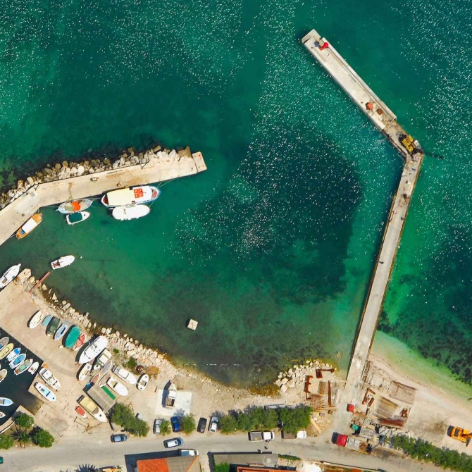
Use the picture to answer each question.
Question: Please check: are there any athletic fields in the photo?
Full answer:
No, no athletic field is visible in the view.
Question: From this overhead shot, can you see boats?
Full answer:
Yes, a boat appears in the view.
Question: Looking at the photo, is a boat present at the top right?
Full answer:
No, I see no boat at the top right.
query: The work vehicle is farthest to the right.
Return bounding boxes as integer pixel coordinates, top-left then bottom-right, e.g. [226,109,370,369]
[451,426,472,448]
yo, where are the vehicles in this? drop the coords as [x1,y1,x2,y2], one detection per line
[451,426,472,448]
[109,434,128,442]
[337,424,381,450]
[170,415,180,434]
[152,415,162,437]
[196,416,207,435]
[0,457,5,464]
[209,415,219,434]
[248,432,273,441]
[162,438,184,449]
[283,430,307,439]
[178,448,199,458]
[132,411,152,428]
